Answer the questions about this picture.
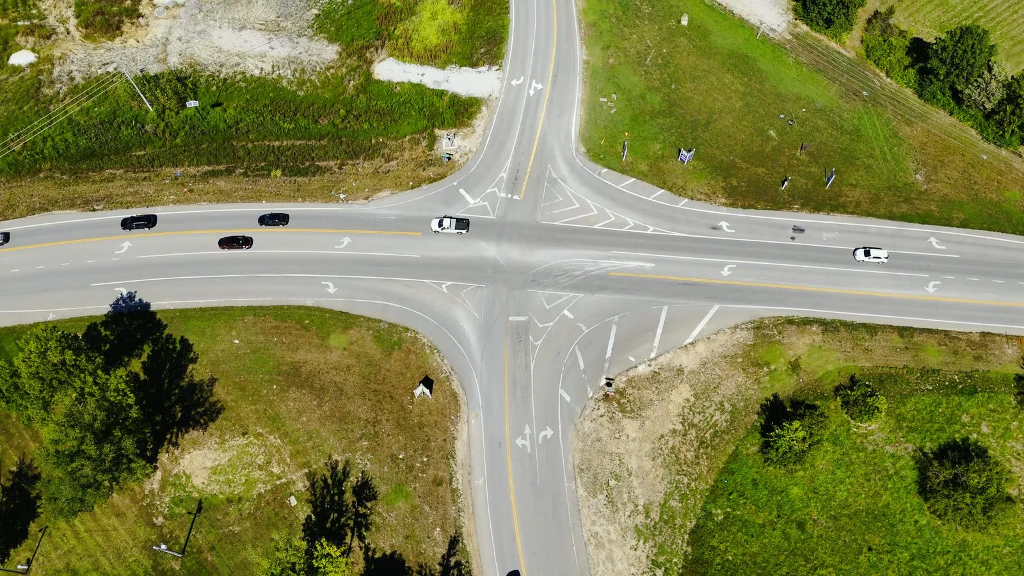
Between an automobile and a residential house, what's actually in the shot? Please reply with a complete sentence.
Visible in the photo is an automobile.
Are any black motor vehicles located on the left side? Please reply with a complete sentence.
Yes, a black motor vehicle is visible on the left side.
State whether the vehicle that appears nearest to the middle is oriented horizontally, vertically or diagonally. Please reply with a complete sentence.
Seen from above, the vehicle that appears nearest to the middle lies horizontally.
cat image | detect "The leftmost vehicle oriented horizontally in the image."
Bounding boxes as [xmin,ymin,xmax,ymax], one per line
[118,212,157,232]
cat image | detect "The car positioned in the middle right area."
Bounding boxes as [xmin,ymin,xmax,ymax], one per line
[854,246,892,265]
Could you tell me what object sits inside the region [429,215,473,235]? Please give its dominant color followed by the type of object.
white vehicle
